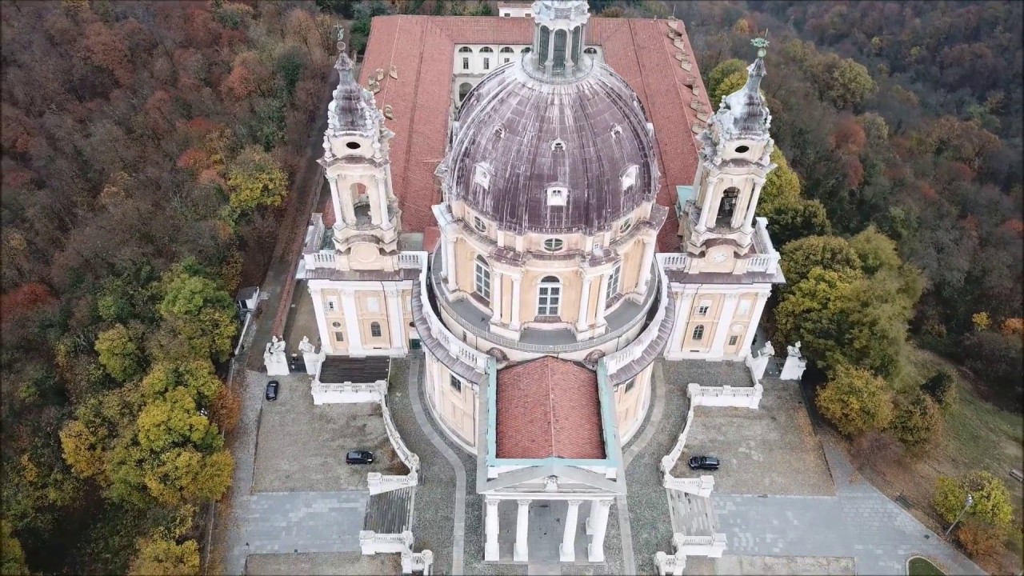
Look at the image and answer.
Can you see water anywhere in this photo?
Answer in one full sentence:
No, water can't be seen anywhere here.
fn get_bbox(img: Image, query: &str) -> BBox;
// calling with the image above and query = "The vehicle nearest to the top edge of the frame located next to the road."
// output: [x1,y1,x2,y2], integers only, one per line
[265,380,279,401]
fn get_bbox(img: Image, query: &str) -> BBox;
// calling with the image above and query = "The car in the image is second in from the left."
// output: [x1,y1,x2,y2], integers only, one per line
[346,450,374,464]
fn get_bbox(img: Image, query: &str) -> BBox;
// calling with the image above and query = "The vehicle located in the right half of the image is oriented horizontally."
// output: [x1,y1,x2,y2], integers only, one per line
[688,455,720,470]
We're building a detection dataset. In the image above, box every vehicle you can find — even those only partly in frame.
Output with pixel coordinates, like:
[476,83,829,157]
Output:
[346,450,374,464]
[265,380,279,401]
[688,455,720,470]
